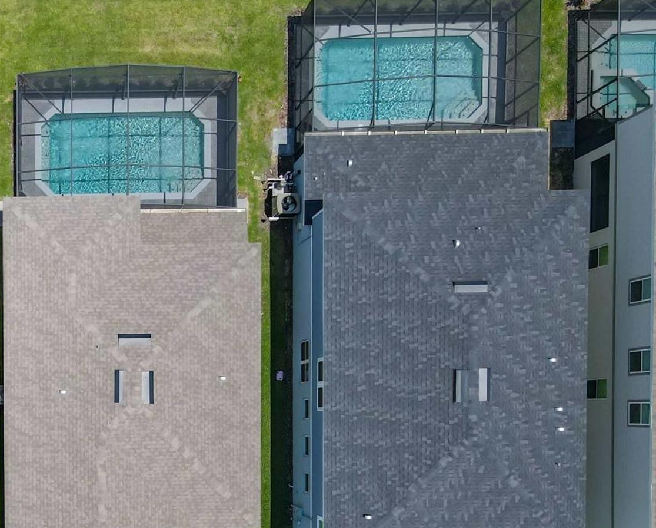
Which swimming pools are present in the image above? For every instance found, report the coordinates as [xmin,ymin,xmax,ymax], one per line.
[589,21,656,127]
[316,24,491,125]
[33,99,213,200]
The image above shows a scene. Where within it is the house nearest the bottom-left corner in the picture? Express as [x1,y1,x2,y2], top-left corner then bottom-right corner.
[1,194,262,528]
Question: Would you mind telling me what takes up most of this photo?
buildings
